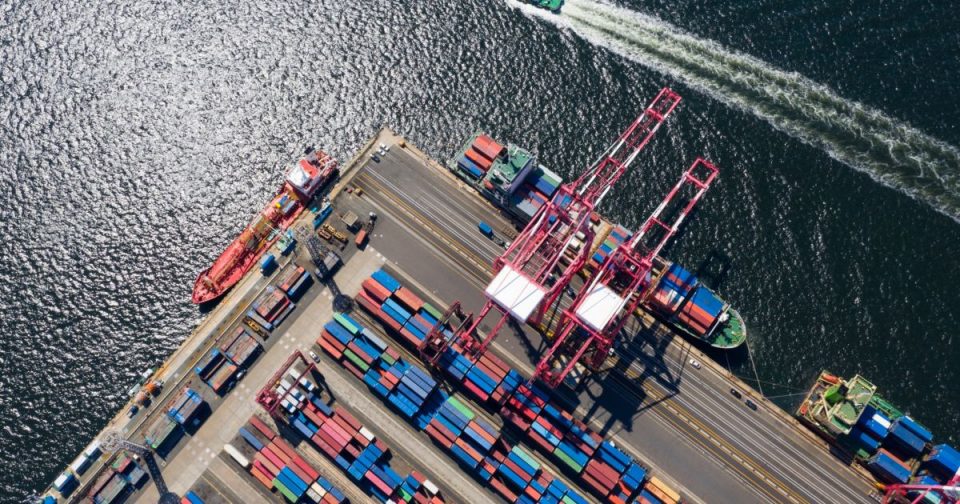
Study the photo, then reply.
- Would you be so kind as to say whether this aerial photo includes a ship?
Yes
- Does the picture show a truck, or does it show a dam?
truck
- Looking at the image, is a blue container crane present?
No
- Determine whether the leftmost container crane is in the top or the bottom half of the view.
bottom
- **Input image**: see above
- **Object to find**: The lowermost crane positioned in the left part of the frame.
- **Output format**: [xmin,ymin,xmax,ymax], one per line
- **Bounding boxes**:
[256,348,325,420]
